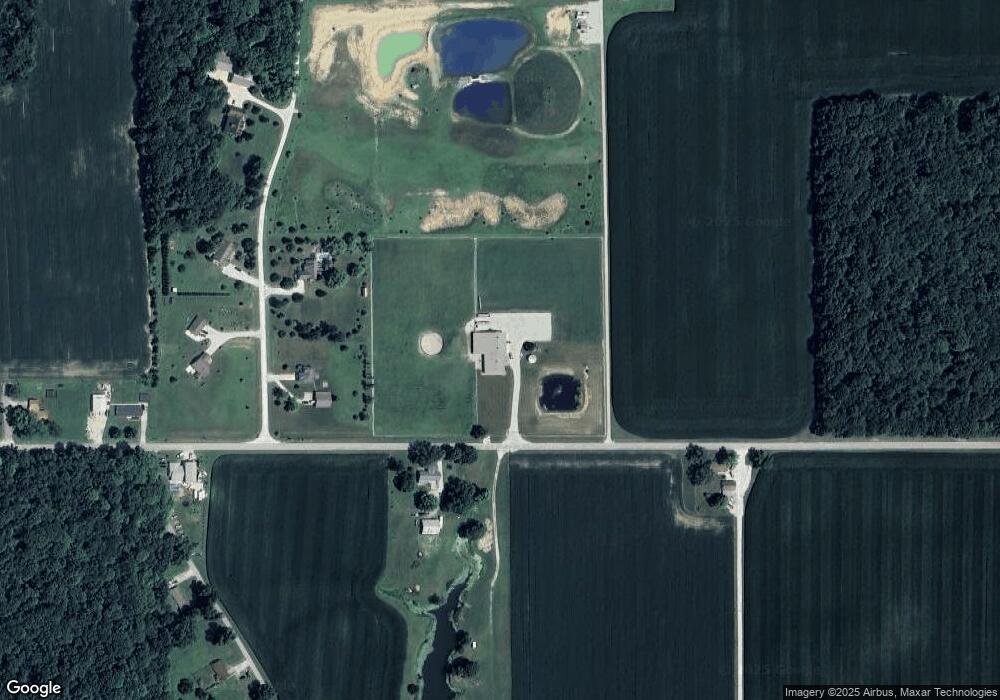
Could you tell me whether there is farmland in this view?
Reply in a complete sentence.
Yes, there's farmland in this view.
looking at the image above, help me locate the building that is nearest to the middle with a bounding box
[474,333,510,375]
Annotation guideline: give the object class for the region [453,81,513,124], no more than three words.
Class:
pond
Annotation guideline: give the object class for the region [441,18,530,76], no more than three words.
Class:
pond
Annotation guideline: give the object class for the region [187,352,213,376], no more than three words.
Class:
house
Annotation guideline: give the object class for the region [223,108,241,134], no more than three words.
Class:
house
